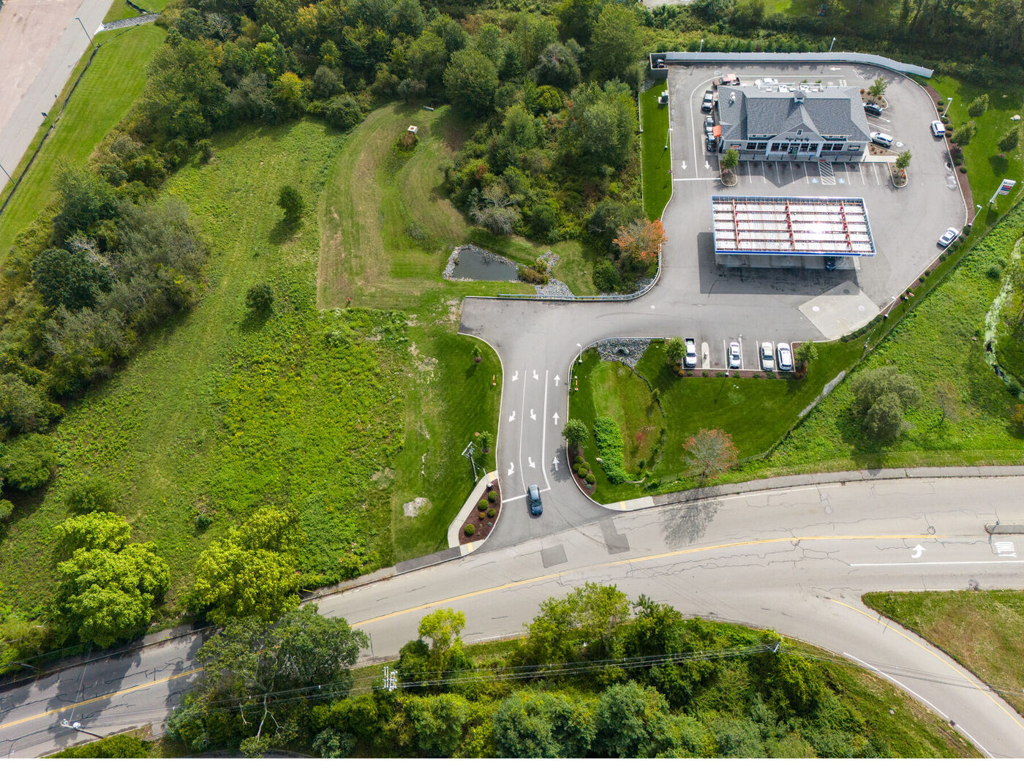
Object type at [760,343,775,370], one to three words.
car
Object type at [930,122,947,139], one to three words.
car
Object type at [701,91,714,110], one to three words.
vehicle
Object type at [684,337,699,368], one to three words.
vehicle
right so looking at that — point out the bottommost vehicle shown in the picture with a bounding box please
[526,484,543,517]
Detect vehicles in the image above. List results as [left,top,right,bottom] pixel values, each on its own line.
[705,116,716,134]
[728,343,742,368]
[713,75,742,88]
[870,132,895,147]
[760,343,775,370]
[938,227,960,247]
[706,134,718,151]
[701,91,714,110]
[862,102,885,116]
[930,122,947,139]
[777,344,793,370]
[526,484,543,517]
[684,337,699,368]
